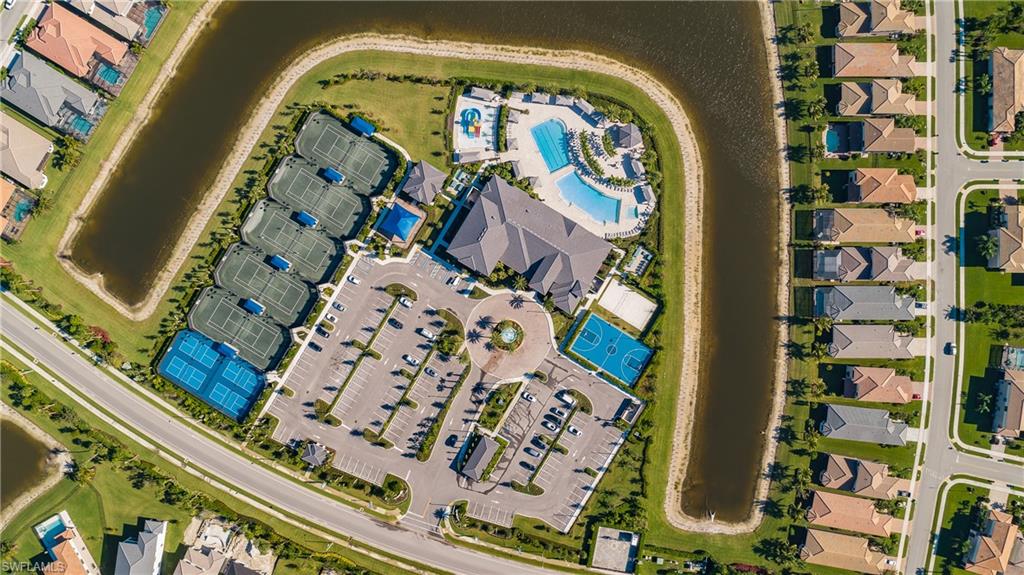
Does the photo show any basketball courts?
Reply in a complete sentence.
Yes, this view includes a basketball court.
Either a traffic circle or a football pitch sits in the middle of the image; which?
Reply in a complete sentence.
It is a traffic circle that can be seen in the middle of the image.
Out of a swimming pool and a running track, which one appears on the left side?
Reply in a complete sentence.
There is a swimming pool on the left side.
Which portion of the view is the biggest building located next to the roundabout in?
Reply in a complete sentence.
Look in the center portion of the view to spot the biggest building located next to the roundabout.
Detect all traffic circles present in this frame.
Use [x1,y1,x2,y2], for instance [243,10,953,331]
[466,292,551,378]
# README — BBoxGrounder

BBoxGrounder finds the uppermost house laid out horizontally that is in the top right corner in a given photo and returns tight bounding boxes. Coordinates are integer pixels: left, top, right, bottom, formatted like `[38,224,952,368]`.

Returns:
[835,0,915,37]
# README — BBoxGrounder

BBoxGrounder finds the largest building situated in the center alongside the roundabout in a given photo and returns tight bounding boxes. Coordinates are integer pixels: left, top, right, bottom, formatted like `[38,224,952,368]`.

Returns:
[447,175,613,317]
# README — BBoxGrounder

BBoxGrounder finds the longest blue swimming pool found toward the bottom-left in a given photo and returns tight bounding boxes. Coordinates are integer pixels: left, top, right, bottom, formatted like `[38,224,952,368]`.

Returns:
[43,519,67,548]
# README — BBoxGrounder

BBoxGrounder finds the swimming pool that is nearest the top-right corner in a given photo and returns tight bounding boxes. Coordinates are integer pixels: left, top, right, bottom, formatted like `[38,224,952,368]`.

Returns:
[826,129,841,153]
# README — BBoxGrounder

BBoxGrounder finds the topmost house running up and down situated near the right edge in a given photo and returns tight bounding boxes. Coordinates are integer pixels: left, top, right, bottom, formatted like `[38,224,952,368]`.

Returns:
[989,47,1024,132]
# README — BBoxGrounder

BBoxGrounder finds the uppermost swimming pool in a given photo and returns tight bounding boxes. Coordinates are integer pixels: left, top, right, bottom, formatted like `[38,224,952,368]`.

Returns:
[145,6,161,39]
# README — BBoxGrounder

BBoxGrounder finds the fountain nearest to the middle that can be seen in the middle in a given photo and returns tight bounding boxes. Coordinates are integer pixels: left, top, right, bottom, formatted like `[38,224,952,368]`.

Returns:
[501,327,517,343]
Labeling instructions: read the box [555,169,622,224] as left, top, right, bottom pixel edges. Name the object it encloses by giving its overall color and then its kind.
blue swimming pool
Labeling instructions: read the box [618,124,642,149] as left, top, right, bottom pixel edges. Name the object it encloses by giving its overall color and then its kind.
gray gazebo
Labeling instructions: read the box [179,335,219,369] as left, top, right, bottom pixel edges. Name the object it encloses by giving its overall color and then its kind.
blue sports court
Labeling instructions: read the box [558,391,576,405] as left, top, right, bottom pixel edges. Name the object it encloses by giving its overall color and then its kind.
white vehicle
